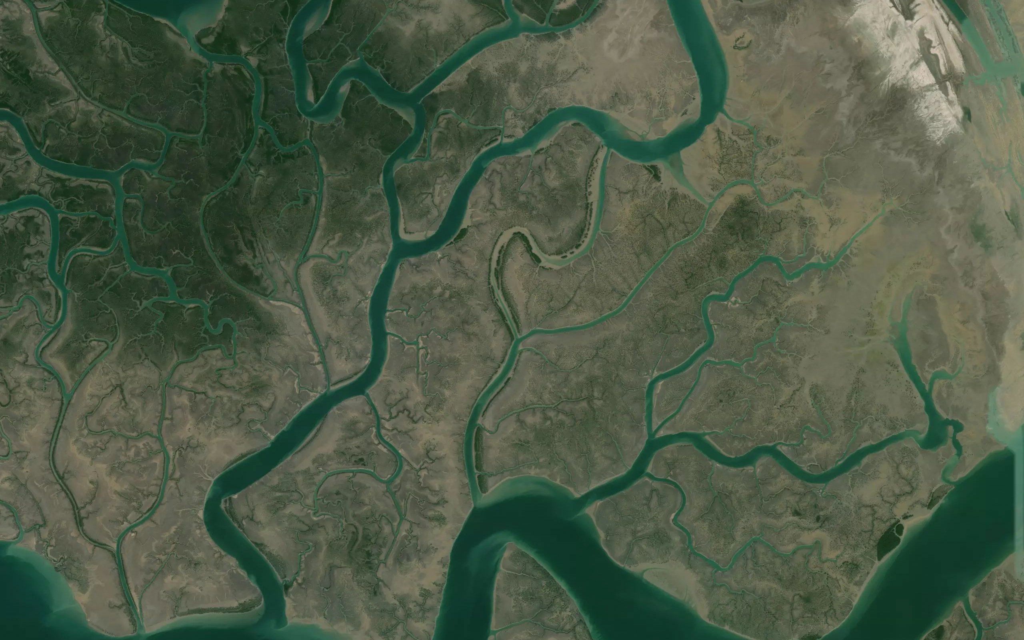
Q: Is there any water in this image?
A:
Yes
